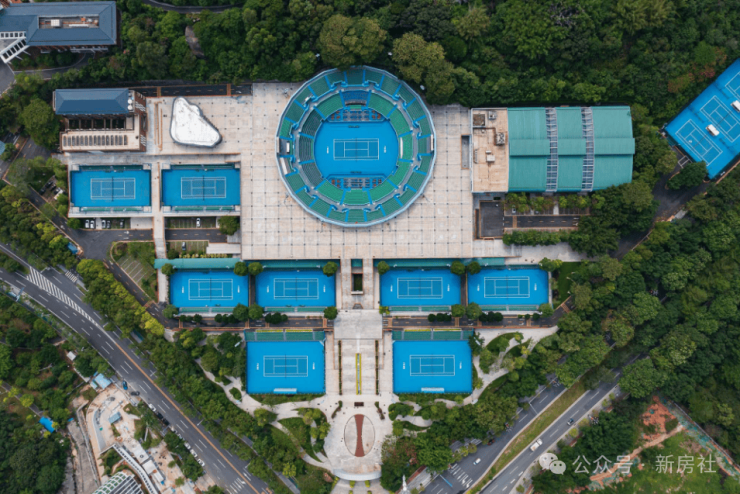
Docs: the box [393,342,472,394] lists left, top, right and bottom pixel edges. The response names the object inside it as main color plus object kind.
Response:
blue tennis court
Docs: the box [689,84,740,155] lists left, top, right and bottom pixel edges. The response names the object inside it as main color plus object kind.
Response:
blue tennis court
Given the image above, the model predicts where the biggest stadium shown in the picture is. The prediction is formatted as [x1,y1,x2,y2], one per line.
[275,66,436,226]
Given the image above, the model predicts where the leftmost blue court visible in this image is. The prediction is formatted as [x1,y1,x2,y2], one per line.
[70,170,150,206]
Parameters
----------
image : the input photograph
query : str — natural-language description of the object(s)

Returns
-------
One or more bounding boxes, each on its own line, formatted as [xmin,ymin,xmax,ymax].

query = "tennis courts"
[689,84,740,155]
[715,61,740,109]
[171,270,246,307]
[70,170,150,206]
[469,269,548,305]
[665,108,733,176]
[163,169,238,205]
[247,342,324,394]
[387,269,460,306]
[257,270,335,306]
[393,342,472,394]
